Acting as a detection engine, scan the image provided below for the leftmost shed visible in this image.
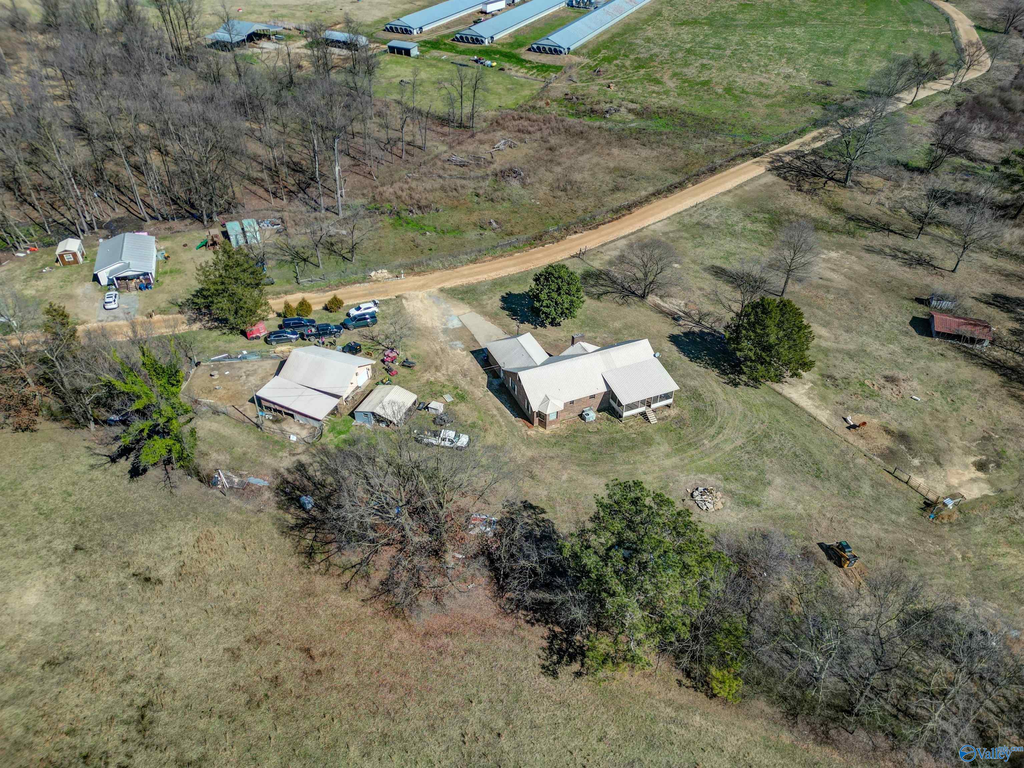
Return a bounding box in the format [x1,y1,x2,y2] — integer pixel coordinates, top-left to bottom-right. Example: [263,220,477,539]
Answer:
[55,239,84,266]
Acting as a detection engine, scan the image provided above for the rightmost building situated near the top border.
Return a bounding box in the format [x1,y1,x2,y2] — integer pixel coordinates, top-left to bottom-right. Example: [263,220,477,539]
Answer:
[528,0,647,53]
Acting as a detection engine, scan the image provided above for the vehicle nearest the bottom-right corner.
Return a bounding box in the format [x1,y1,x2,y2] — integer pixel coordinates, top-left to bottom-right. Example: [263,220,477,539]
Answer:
[828,547,863,573]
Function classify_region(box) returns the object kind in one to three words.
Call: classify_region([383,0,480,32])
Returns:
building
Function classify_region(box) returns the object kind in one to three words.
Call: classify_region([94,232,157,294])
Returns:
house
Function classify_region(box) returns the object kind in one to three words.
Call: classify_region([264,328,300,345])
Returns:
car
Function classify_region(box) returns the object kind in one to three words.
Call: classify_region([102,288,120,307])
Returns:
car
